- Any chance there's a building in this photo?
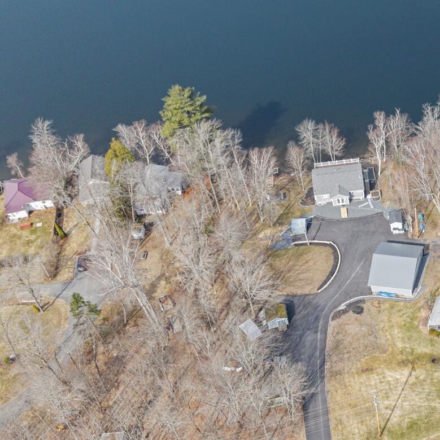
Yes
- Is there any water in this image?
Yes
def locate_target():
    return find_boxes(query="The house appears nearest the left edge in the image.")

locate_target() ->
[4,175,53,226]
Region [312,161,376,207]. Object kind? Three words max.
house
